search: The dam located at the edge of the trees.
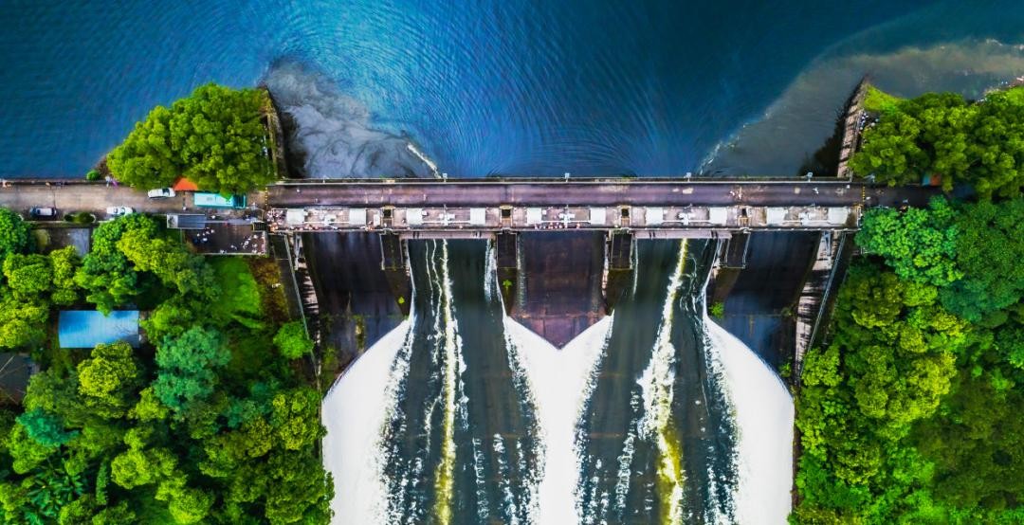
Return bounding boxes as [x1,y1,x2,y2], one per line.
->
[259,176,866,525]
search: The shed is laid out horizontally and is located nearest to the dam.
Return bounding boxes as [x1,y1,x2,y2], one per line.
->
[162,214,207,229]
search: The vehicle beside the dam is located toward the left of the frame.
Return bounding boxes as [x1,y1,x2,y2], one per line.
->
[187,192,244,208]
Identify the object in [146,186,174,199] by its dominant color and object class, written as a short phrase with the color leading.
white vehicle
